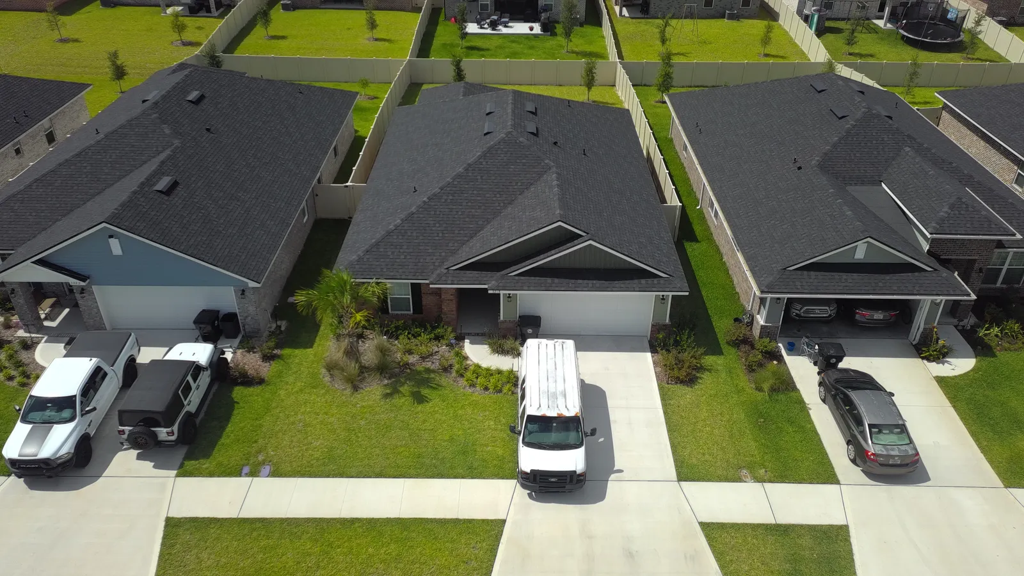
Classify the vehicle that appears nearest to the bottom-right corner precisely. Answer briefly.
car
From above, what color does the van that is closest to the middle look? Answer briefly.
white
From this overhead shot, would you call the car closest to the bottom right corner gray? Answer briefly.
Yes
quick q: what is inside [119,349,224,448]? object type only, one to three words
car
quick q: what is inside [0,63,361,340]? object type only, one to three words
house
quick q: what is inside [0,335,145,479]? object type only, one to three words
truck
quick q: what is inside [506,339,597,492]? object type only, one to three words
van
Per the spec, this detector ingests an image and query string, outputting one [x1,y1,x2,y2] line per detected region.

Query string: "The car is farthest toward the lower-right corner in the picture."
[823,374,924,477]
